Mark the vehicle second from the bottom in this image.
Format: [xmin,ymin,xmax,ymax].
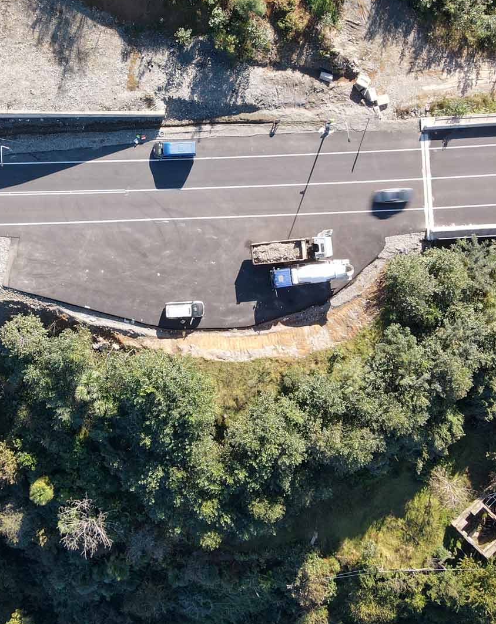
[268,259,355,292]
